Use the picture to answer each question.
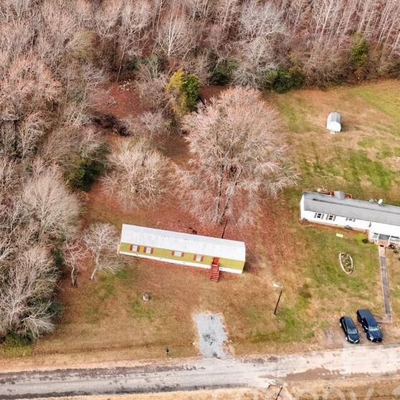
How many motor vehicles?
2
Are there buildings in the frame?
Yes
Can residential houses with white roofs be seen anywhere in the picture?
Yes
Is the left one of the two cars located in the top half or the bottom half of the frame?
bottom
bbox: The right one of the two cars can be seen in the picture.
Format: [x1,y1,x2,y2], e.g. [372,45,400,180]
[359,310,382,341]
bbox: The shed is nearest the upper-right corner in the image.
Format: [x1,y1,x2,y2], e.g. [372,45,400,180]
[325,109,343,133]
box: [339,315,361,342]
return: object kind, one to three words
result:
car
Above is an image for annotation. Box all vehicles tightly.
[359,310,382,341]
[339,315,361,342]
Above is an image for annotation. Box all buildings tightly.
[118,223,246,281]
[299,189,400,249]
[325,109,343,133]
